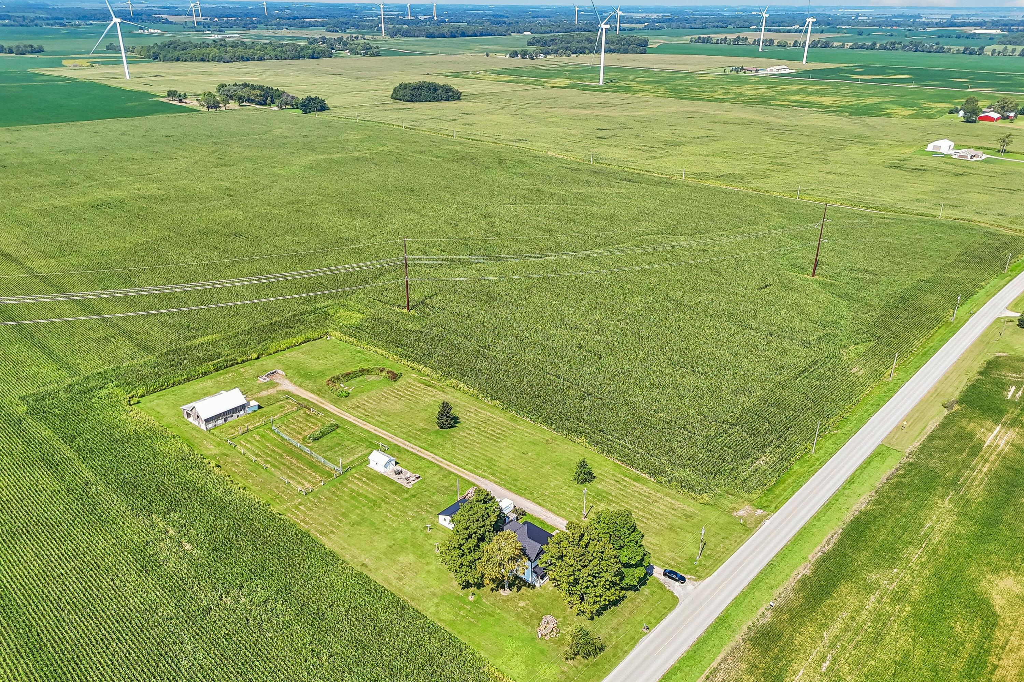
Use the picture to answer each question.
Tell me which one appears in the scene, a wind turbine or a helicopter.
wind turbine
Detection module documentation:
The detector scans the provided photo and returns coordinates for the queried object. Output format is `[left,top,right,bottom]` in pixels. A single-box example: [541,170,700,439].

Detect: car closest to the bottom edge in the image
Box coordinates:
[665,570,686,584]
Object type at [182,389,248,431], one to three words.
barn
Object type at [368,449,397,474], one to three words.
shed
